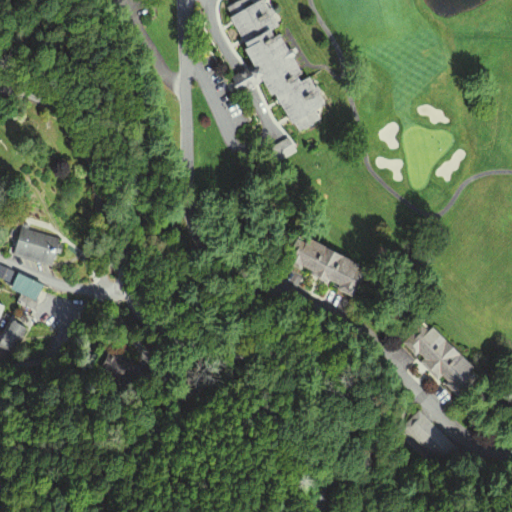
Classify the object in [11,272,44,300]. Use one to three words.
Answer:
building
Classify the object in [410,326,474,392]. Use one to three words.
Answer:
house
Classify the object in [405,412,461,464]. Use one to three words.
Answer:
house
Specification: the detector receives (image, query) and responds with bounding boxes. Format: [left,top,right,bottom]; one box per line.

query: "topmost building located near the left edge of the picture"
[13,226,62,262]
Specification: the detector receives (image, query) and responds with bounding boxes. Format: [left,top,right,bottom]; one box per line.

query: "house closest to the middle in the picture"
[294,240,364,298]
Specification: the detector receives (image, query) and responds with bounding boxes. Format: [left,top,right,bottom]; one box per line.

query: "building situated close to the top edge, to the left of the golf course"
[222,0,326,132]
